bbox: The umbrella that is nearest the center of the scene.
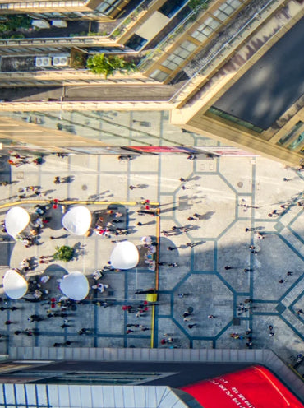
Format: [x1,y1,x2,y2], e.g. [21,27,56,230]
[108,239,140,271]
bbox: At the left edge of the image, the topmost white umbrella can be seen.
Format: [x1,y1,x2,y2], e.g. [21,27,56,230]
[3,206,36,238]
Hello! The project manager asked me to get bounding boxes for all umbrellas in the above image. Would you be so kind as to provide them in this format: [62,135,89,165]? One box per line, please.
[1,267,34,299]
[3,206,36,238]
[60,272,92,303]
[108,239,140,271]
[61,206,94,236]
